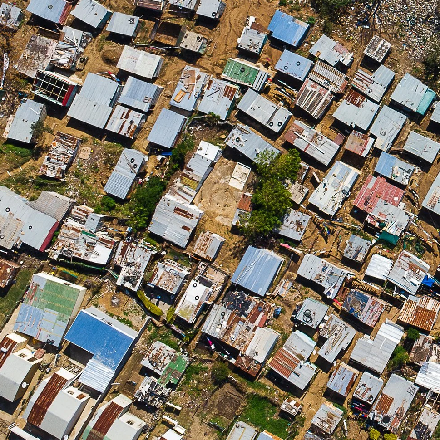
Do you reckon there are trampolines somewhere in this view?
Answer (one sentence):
No, there is no trampoline in the image.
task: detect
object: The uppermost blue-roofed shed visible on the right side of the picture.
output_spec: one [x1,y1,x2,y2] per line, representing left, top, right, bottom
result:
[268,10,311,47]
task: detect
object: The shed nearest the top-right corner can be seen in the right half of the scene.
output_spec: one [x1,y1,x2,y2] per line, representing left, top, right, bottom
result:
[365,35,391,62]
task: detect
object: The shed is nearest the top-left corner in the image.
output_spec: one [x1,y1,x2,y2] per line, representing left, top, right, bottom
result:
[0,2,28,25]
